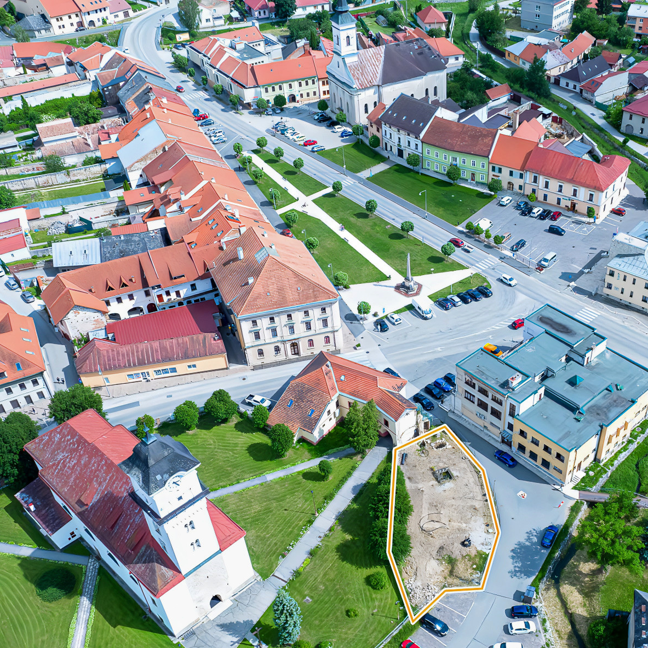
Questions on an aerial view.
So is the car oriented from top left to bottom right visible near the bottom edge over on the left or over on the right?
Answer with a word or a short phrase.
right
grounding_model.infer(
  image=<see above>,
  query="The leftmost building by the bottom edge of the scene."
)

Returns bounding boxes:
[0,408,258,640]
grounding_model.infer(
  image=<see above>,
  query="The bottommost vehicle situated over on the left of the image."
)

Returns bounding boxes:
[245,392,273,408]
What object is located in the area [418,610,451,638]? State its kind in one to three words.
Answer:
car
